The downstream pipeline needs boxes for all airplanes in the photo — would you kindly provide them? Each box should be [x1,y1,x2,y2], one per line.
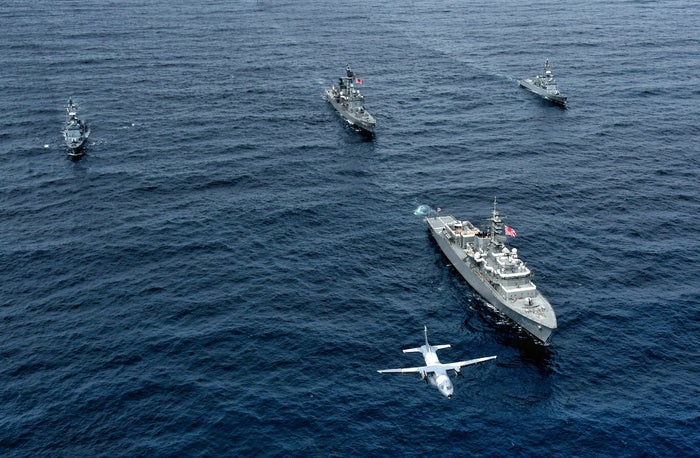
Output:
[377,324,497,396]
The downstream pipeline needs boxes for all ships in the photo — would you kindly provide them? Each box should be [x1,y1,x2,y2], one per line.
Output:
[64,96,83,154]
[325,65,376,129]
[518,62,568,105]
[425,193,557,343]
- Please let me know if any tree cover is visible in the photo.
No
